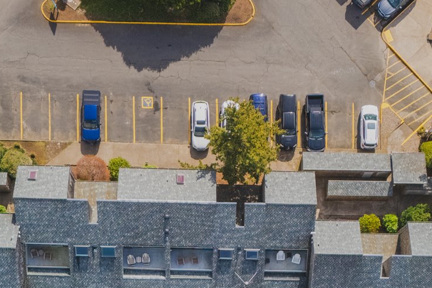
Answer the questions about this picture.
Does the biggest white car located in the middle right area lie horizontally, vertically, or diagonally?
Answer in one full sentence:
The biggest white car located in the middle right area has been laid out vertically relative to the frame.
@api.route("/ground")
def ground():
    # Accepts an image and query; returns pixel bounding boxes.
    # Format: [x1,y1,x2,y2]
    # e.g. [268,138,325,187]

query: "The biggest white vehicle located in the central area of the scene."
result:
[188,102,211,153]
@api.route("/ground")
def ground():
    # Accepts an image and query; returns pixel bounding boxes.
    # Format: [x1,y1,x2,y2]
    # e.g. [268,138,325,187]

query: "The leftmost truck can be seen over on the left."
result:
[78,89,103,146]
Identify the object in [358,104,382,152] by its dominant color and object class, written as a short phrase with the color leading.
white car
